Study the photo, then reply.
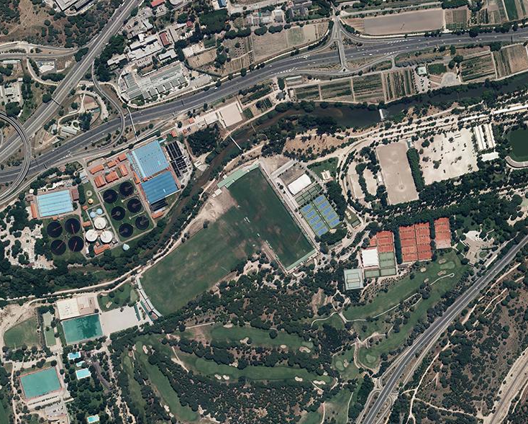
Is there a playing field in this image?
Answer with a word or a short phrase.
Yes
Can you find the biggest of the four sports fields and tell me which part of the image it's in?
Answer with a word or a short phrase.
center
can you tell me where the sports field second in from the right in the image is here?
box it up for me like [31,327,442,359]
[62,314,102,344]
